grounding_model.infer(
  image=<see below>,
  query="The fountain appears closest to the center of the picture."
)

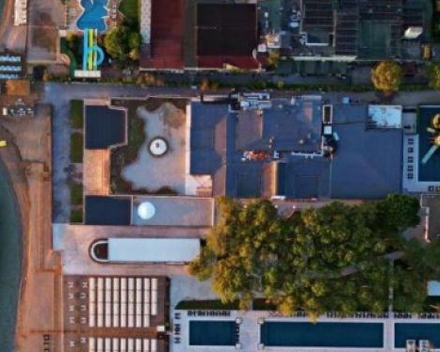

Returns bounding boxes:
[147,136,169,157]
